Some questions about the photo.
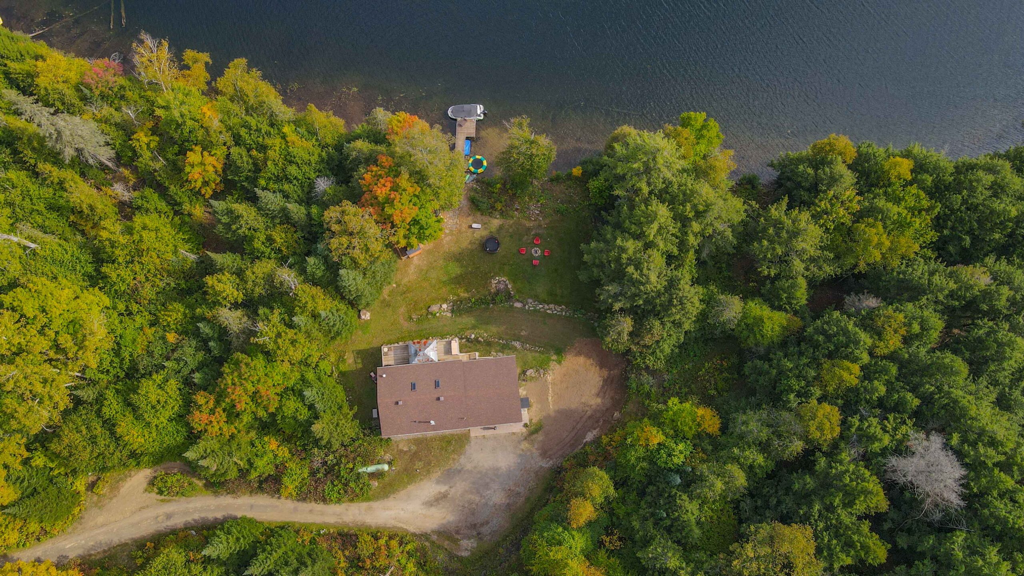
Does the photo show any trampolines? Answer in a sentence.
Yes, the image includes a trampoline.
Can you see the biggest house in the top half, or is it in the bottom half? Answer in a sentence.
The biggest house sits in the bottom half of the picture.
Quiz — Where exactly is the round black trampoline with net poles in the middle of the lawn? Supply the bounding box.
[484,234,500,253]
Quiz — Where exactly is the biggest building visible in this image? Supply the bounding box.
[377,355,522,438]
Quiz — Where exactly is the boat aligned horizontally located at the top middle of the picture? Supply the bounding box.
[448,104,487,120]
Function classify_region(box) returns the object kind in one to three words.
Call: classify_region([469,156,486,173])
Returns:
trampoline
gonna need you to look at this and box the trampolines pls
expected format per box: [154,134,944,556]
[484,234,500,253]
[469,156,486,173]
